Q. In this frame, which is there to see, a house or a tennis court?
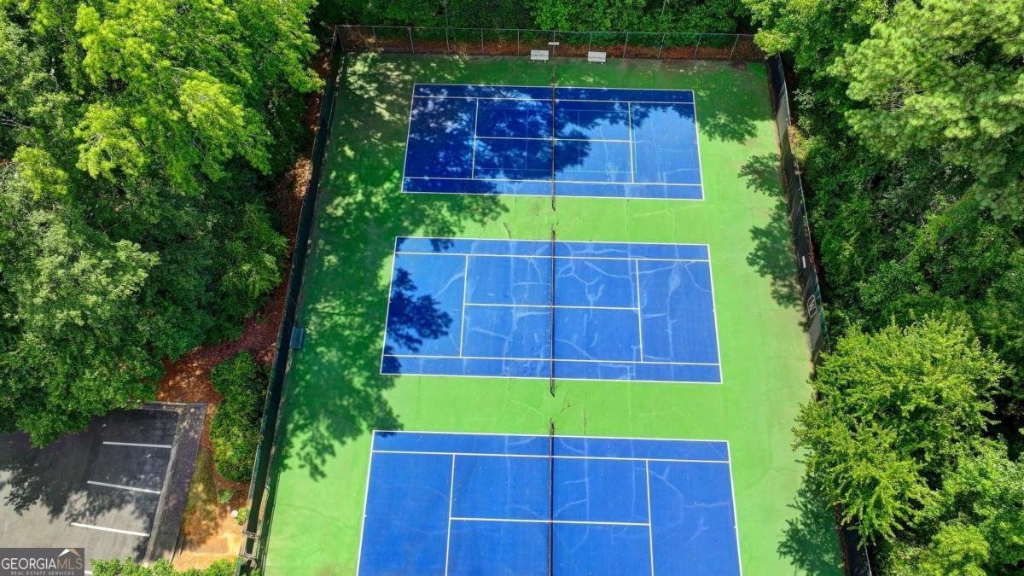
tennis court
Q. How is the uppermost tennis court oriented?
horizontally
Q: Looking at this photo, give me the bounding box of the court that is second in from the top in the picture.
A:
[381,237,722,383]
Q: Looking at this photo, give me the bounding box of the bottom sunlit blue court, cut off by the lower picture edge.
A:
[358,431,741,576]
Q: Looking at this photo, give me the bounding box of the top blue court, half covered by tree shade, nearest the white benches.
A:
[402,84,703,199]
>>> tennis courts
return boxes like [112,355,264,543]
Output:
[402,84,703,199]
[358,431,741,576]
[381,237,722,383]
